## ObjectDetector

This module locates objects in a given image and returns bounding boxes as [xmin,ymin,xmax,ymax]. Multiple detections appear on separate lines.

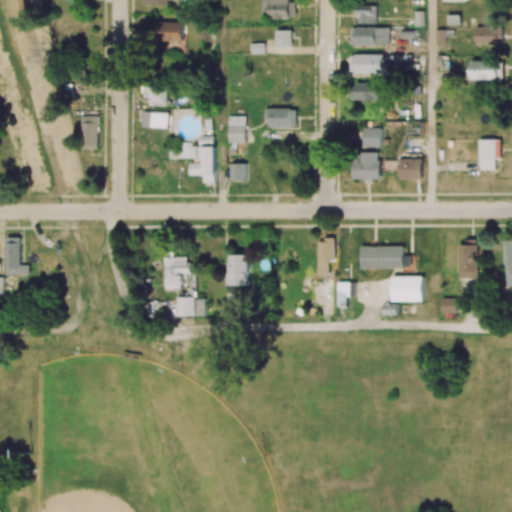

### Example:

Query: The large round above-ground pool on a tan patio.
[177,114,202,138]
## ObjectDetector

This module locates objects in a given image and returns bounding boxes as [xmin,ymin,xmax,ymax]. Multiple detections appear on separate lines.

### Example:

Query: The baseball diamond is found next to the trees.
[37,353,280,512]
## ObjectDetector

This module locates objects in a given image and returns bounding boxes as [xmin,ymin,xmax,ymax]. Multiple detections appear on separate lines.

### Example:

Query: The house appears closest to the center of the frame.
[227,255,247,287]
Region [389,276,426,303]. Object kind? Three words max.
barn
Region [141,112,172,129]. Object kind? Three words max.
building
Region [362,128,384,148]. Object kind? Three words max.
house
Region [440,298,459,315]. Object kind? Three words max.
shed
